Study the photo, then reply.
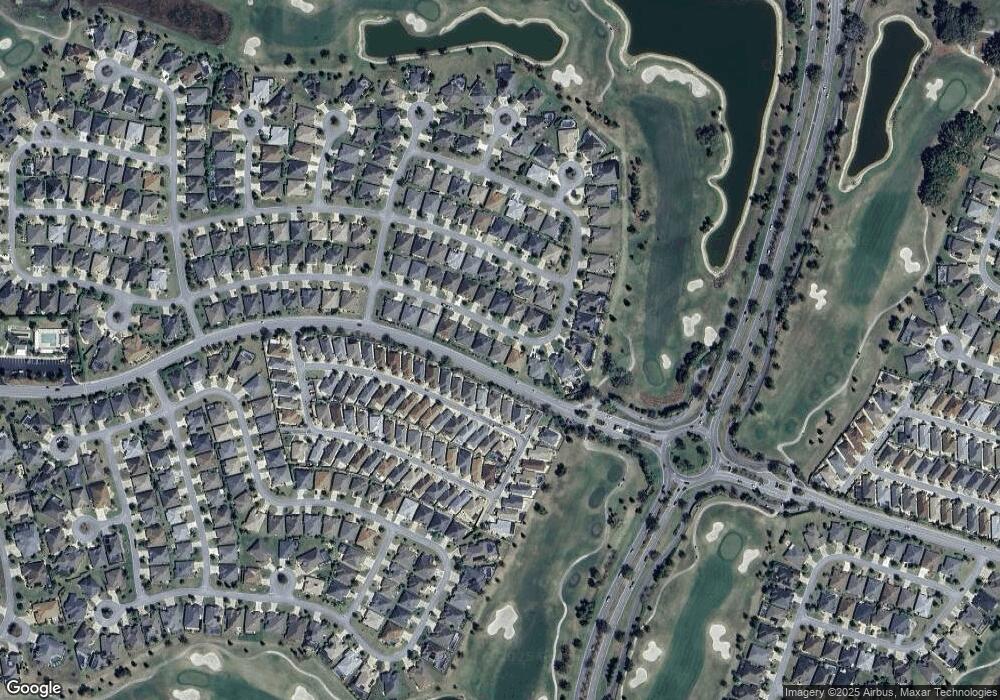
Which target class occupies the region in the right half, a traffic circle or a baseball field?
traffic circle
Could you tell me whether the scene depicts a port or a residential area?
residential area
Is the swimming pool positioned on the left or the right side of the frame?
left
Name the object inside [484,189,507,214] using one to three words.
house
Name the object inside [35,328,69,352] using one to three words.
swimming pool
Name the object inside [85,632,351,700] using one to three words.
golf course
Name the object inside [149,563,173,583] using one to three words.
house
